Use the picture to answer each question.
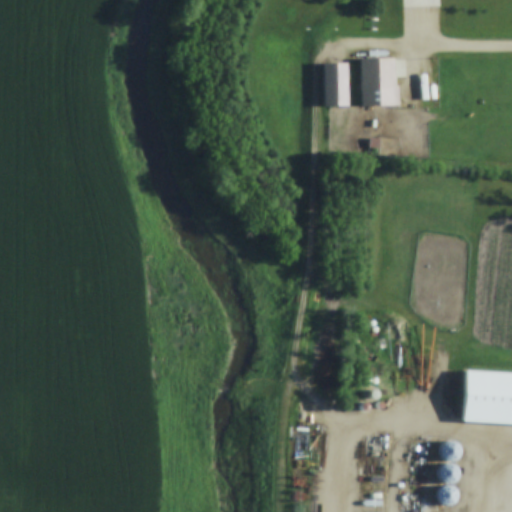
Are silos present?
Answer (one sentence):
Yes, looking at the shot, I can spot a silo.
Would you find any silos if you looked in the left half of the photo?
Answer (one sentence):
No, looking in the left half of the photo, there is no silo.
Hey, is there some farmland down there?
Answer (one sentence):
Yes, farmland shows up in the scene.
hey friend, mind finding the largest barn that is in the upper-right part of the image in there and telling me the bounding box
[361,55,408,107]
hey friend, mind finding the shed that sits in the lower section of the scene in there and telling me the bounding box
[462,368,512,426]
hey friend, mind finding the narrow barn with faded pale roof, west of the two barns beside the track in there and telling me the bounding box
[325,60,350,106]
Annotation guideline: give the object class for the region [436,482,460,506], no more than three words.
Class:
silo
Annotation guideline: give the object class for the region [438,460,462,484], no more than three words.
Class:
silo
